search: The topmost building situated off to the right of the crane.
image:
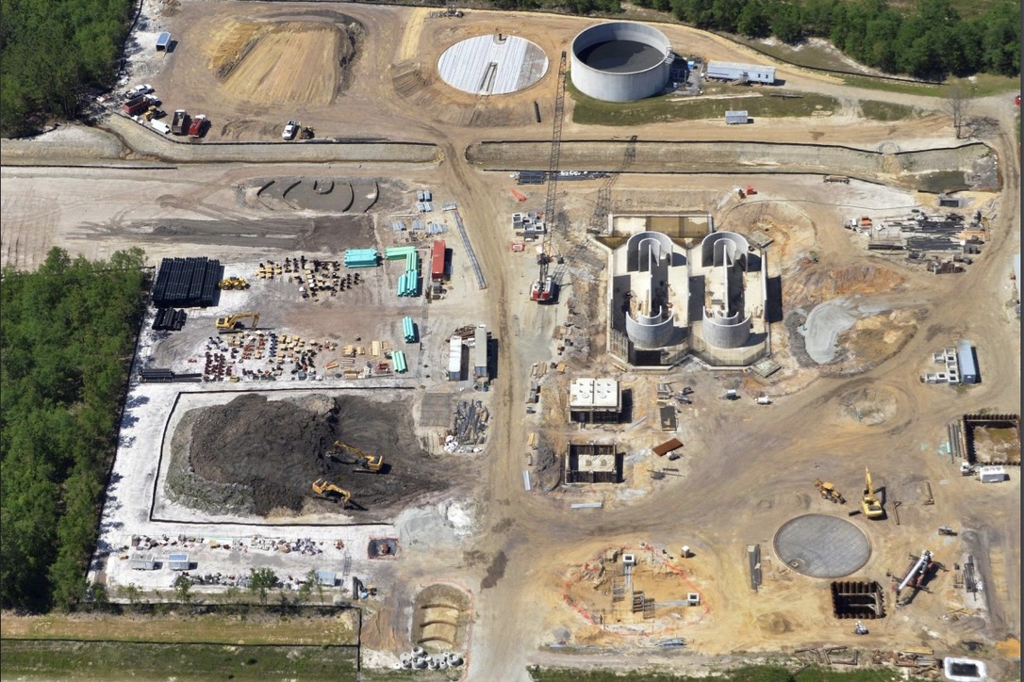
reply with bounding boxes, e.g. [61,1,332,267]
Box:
[669,49,719,95]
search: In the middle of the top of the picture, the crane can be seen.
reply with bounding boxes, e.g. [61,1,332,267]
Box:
[530,50,565,296]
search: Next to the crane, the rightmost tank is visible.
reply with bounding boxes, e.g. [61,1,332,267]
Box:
[570,19,678,103]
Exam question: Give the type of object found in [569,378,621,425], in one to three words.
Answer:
building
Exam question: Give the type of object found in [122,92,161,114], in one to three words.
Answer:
truck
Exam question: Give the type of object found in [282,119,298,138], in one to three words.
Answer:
vehicle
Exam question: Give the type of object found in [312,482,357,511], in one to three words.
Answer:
work vehicle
